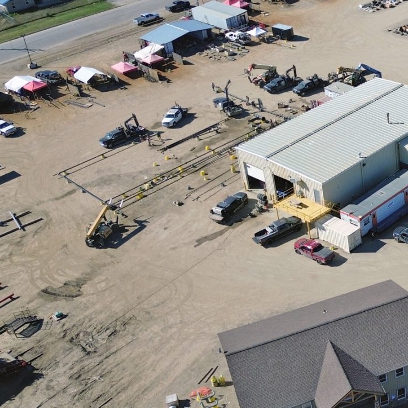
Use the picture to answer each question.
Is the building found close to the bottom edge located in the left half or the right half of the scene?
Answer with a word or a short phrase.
right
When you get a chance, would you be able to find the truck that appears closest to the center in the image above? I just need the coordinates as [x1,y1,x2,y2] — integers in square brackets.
[206,194,252,220]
